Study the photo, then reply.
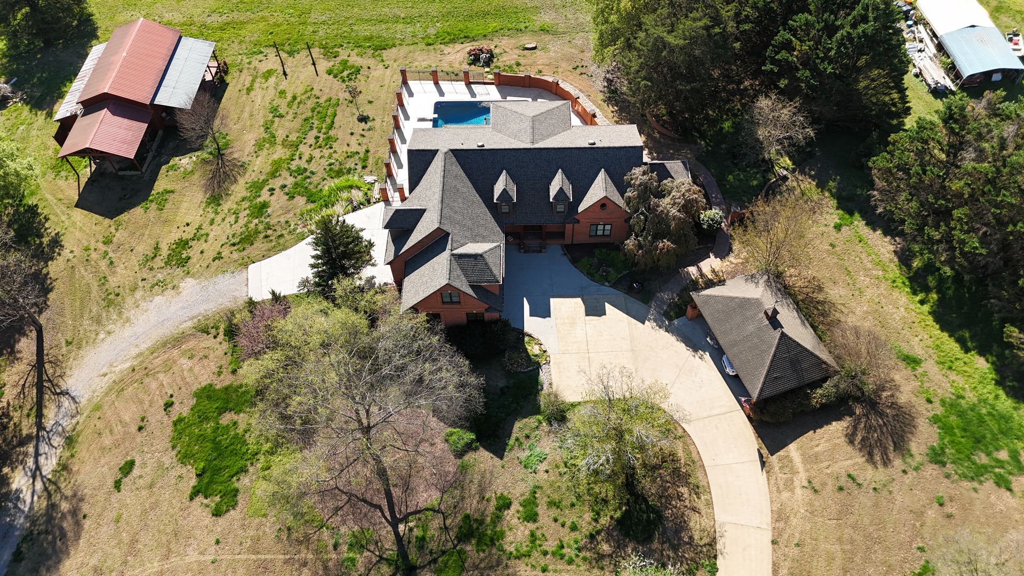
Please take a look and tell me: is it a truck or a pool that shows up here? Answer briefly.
pool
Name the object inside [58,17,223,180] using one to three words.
barn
